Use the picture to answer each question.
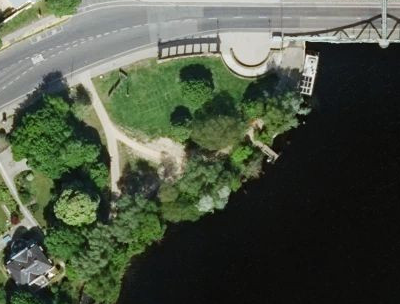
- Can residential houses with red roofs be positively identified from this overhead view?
No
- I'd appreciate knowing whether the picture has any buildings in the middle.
No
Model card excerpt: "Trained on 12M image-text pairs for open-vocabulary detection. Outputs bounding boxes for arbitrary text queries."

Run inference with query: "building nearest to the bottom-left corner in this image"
[4,244,54,288]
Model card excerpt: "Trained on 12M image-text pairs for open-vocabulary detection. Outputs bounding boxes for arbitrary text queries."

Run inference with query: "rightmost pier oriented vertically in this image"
[300,54,319,95]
